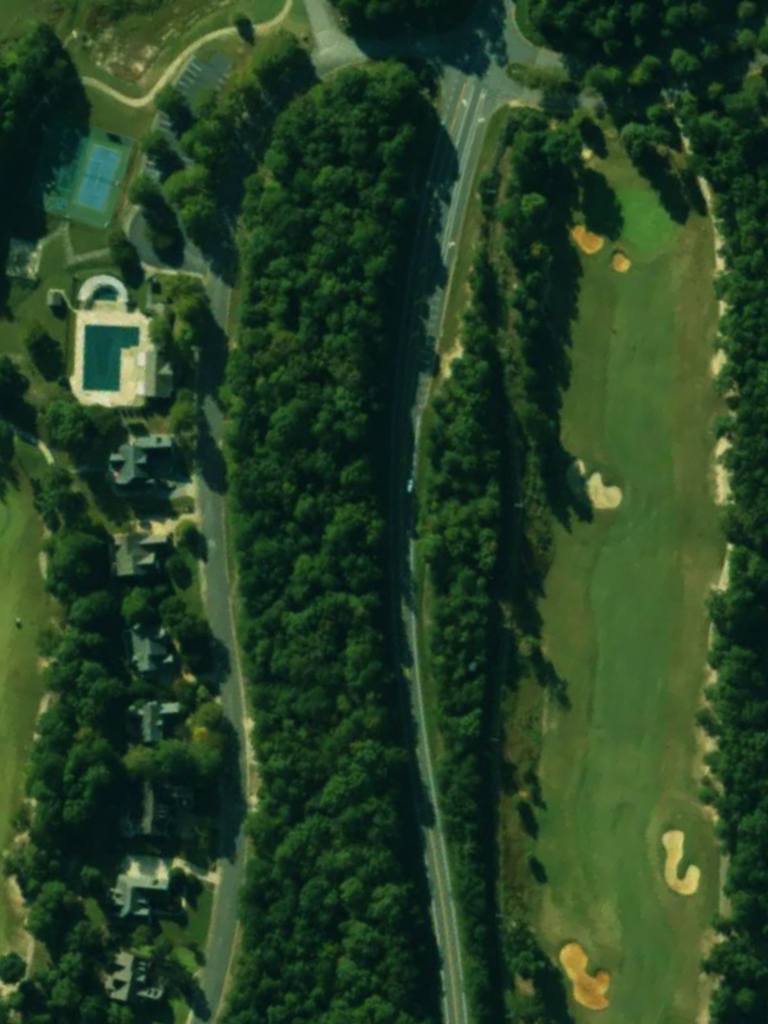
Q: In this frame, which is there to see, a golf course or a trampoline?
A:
golf course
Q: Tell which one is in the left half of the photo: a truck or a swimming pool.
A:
swimming pool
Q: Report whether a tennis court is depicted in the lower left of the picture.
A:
No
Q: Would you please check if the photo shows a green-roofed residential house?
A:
Yes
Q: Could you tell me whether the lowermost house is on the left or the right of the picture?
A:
left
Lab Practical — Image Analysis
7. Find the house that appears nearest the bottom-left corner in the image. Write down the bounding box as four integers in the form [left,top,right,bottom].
[103,954,164,1013]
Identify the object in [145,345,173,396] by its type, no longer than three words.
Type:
building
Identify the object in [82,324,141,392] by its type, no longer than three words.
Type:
swimming pool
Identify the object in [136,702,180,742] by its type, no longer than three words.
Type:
house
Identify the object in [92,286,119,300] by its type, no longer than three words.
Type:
swimming pool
